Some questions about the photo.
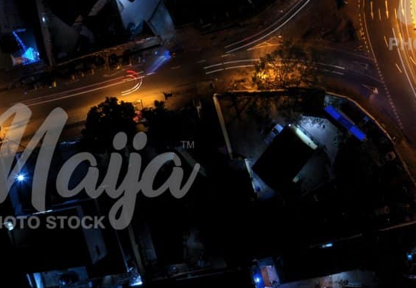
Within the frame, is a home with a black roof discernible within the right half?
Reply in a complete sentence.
Yes, a home with a black roof is visible within the right half.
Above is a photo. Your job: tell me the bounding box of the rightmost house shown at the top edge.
[74,0,127,50]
